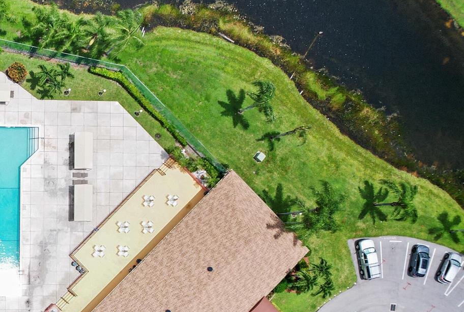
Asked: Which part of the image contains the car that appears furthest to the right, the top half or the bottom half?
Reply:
bottom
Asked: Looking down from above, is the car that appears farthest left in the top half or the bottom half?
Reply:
bottom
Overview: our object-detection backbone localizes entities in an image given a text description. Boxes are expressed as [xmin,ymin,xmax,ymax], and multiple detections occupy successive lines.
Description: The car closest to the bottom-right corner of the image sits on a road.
[437,250,464,286]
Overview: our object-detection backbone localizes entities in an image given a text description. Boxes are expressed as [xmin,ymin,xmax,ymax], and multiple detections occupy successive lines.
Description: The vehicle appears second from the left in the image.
[406,244,428,278]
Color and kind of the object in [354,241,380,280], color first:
white car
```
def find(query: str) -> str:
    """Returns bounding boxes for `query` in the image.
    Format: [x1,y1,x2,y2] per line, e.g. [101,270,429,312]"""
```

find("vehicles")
[354,241,380,280]
[437,250,464,286]
[406,244,428,278]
